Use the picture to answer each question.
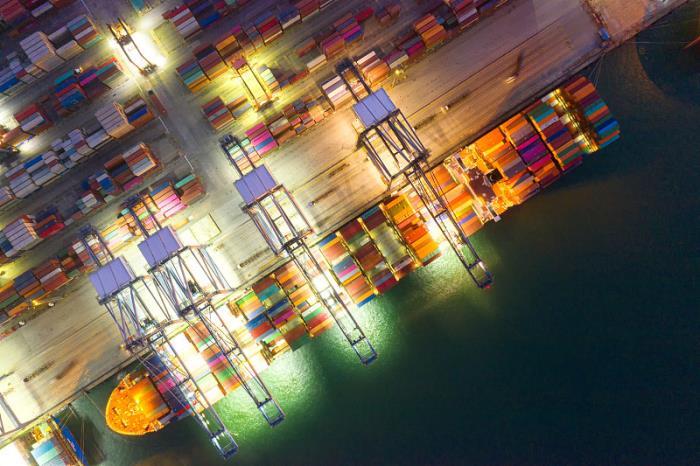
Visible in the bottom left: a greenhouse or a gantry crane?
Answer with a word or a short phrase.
gantry crane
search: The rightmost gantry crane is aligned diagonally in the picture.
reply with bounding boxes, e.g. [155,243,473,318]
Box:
[336,61,492,290]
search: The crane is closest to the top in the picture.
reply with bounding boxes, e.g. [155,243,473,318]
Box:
[105,15,157,73]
